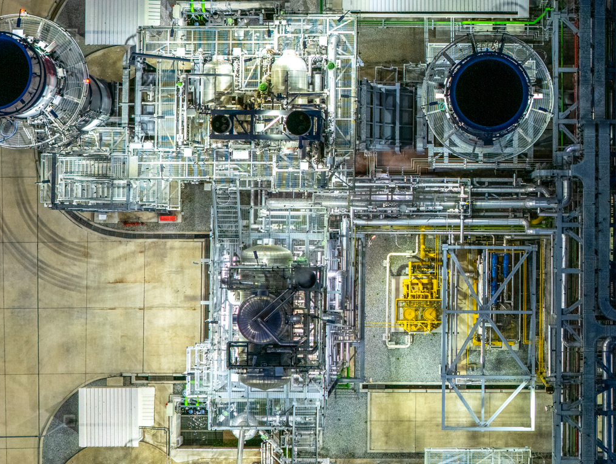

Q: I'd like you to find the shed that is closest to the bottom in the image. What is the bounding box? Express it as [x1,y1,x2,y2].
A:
[79,385,159,446]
